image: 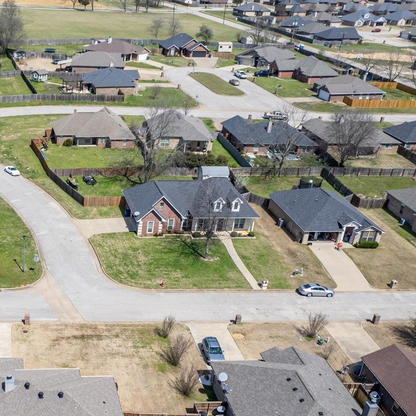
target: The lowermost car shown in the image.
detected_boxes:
[202,335,226,364]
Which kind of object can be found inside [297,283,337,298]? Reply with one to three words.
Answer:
car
